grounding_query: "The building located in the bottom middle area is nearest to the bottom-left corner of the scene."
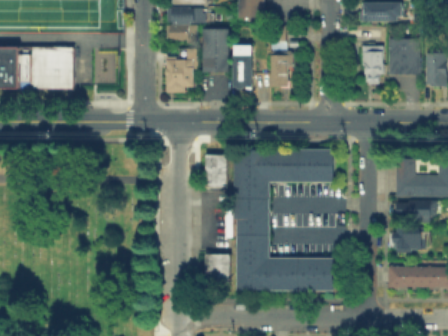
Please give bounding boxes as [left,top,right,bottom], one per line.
[204,254,230,285]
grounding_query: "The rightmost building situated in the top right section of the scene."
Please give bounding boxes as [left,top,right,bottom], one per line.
[426,52,448,86]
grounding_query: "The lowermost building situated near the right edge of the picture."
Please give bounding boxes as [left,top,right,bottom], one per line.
[389,266,448,289]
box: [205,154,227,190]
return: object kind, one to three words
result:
building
